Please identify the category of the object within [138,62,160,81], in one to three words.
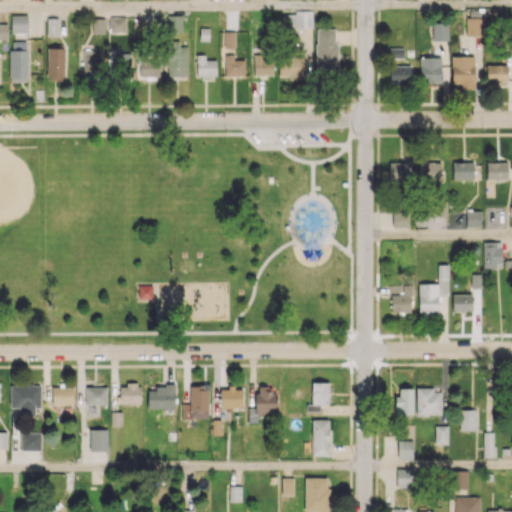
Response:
house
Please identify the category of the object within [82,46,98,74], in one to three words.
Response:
house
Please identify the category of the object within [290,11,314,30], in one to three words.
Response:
building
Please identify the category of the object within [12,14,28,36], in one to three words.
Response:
building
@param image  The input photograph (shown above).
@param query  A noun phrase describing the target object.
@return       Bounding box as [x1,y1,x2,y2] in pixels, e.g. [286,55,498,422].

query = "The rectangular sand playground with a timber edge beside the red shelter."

[158,282,230,322]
